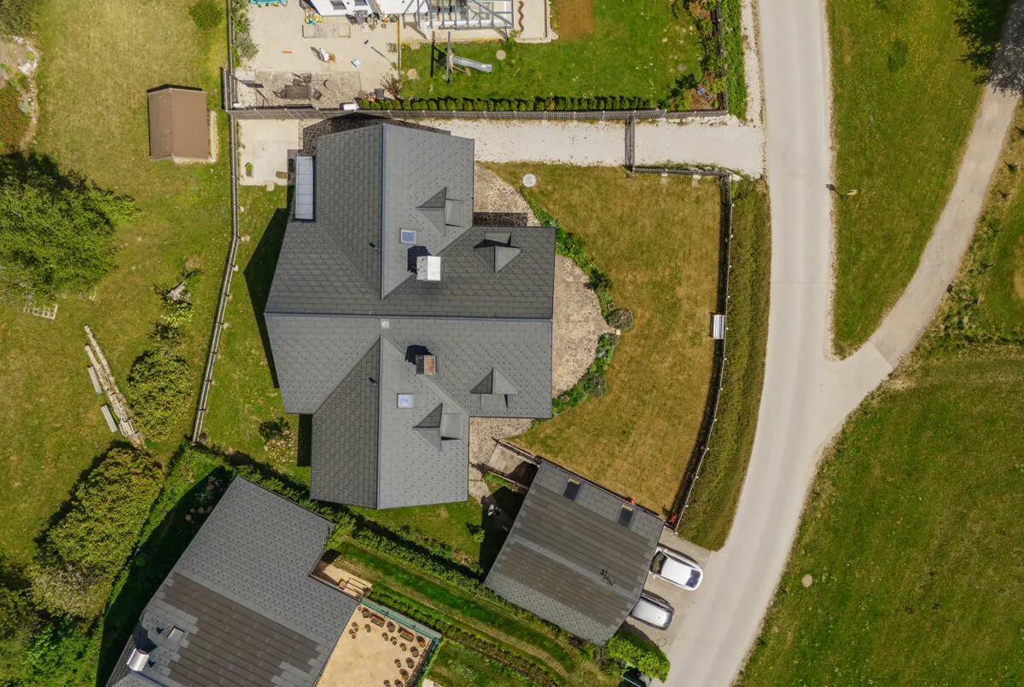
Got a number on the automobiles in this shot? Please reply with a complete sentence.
My tally gives 2 automobiles in this view.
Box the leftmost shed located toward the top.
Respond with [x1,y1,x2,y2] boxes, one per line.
[146,87,221,169]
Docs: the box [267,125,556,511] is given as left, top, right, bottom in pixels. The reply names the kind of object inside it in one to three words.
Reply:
house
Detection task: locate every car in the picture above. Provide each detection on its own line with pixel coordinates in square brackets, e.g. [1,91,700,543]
[645,543,705,593]
[624,587,674,629]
